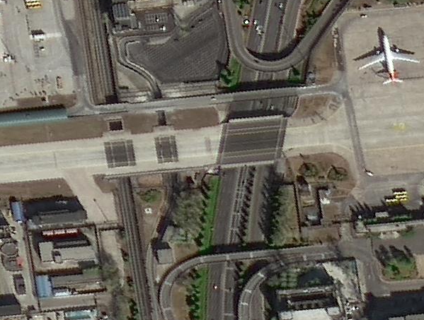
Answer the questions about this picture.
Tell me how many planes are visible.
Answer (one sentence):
Just 1 plane appears in this view.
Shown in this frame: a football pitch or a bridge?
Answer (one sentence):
I can see a bridge in this picture.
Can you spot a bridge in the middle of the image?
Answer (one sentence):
Yes, I can see a bridge in the middle of the image.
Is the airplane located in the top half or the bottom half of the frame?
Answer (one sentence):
The airplane sits in the top half of the picture.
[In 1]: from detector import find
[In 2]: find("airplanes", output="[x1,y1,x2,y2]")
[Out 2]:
[364,35,418,85]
